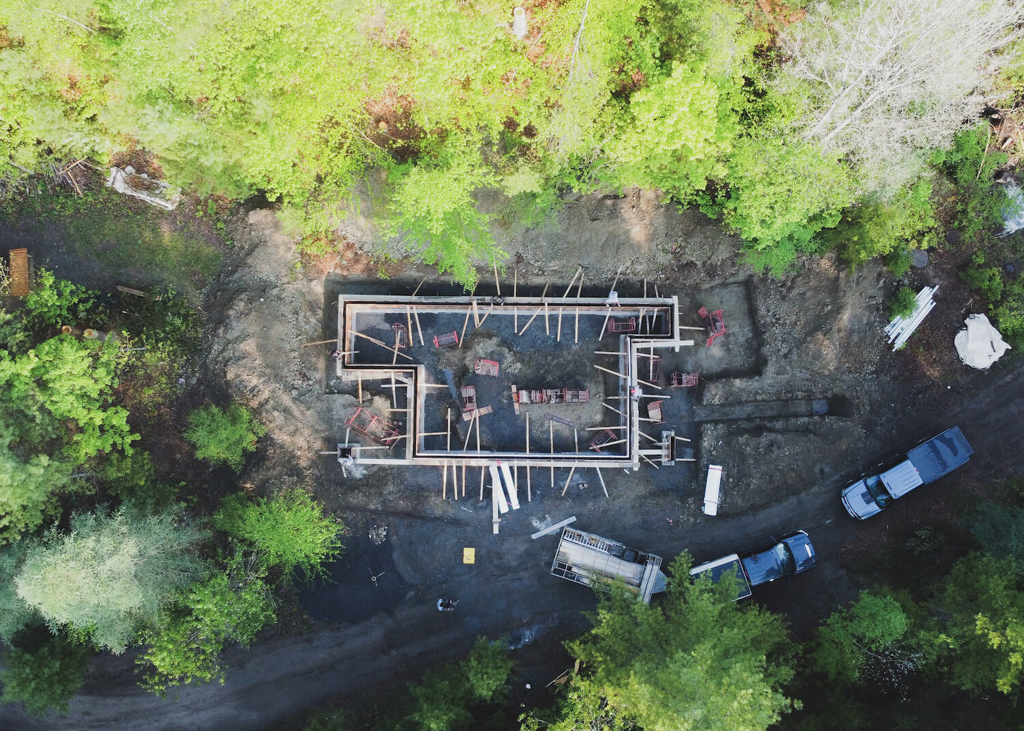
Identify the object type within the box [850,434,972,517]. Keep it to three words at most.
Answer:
truck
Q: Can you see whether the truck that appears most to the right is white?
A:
No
